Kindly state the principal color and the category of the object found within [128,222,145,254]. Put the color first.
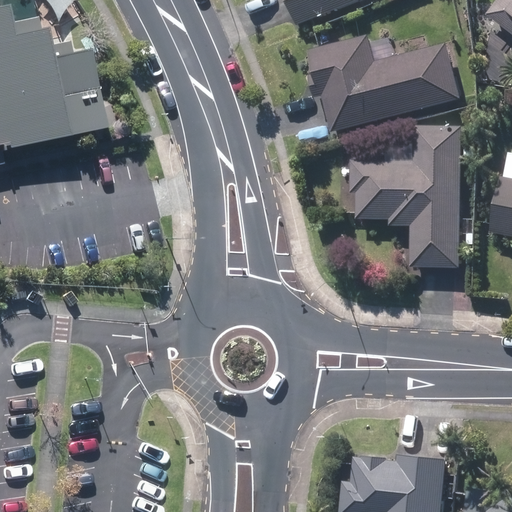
white car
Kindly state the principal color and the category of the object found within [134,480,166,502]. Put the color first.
white car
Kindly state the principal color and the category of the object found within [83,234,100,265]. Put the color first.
blue car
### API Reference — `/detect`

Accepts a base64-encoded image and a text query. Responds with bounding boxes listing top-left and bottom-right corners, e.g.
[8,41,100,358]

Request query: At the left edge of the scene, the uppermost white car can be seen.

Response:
[10,360,44,375]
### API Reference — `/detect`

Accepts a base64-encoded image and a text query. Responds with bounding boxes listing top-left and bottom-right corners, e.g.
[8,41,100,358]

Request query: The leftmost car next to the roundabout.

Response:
[212,390,246,408]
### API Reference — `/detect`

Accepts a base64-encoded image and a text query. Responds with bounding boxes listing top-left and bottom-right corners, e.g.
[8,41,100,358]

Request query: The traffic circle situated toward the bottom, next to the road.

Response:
[210,325,278,394]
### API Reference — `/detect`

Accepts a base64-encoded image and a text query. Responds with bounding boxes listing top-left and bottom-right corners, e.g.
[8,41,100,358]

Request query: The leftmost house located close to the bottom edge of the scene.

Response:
[338,456,444,512]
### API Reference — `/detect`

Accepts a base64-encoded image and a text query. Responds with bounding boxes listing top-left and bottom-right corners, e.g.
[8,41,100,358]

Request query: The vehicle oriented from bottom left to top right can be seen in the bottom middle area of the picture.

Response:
[262,372,287,401]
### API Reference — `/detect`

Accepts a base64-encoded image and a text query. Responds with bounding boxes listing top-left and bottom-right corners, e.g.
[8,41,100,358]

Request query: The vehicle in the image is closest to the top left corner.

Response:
[145,45,166,78]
